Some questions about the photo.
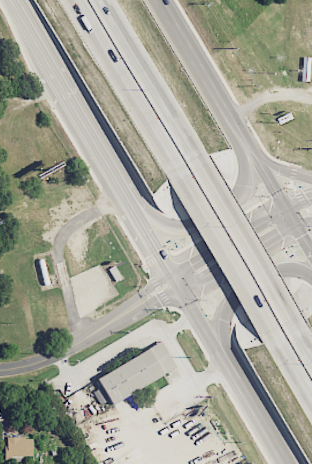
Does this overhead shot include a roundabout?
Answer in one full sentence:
No, there is no roundabout in the image.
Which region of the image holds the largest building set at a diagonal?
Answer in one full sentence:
The largest building set at a diagonal is located in the bottom region of the scene.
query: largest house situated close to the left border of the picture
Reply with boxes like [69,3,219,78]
[4,438,32,456]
